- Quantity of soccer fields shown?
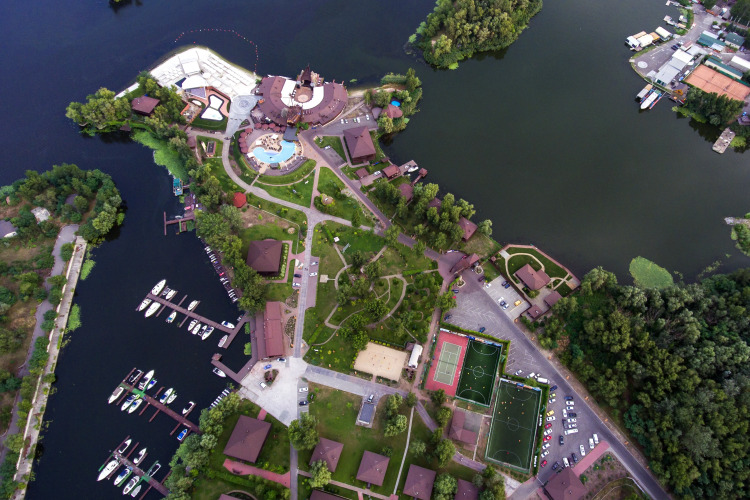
2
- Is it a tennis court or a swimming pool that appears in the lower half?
tennis court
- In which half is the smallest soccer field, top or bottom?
bottom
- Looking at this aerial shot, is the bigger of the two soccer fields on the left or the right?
right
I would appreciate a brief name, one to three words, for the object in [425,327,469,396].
tennis court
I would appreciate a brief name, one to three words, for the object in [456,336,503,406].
soccer field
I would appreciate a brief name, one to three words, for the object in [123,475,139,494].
boat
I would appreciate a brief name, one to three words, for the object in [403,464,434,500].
house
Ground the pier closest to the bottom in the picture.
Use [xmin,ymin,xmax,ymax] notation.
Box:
[99,436,163,500]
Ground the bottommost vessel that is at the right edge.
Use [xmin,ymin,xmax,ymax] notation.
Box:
[712,127,736,154]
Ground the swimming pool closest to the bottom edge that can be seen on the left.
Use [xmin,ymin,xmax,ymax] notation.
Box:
[249,132,304,173]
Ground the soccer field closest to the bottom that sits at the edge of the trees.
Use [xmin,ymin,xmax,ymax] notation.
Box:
[486,377,543,474]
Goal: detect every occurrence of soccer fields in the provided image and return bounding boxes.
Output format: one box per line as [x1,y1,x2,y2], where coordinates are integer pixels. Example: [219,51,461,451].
[486,377,543,474]
[456,336,503,406]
